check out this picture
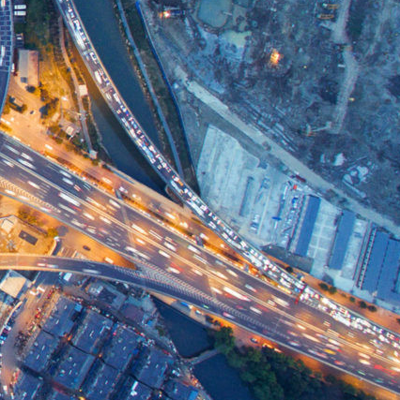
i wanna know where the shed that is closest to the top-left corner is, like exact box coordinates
[18,49,38,86]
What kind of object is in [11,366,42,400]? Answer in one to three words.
building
